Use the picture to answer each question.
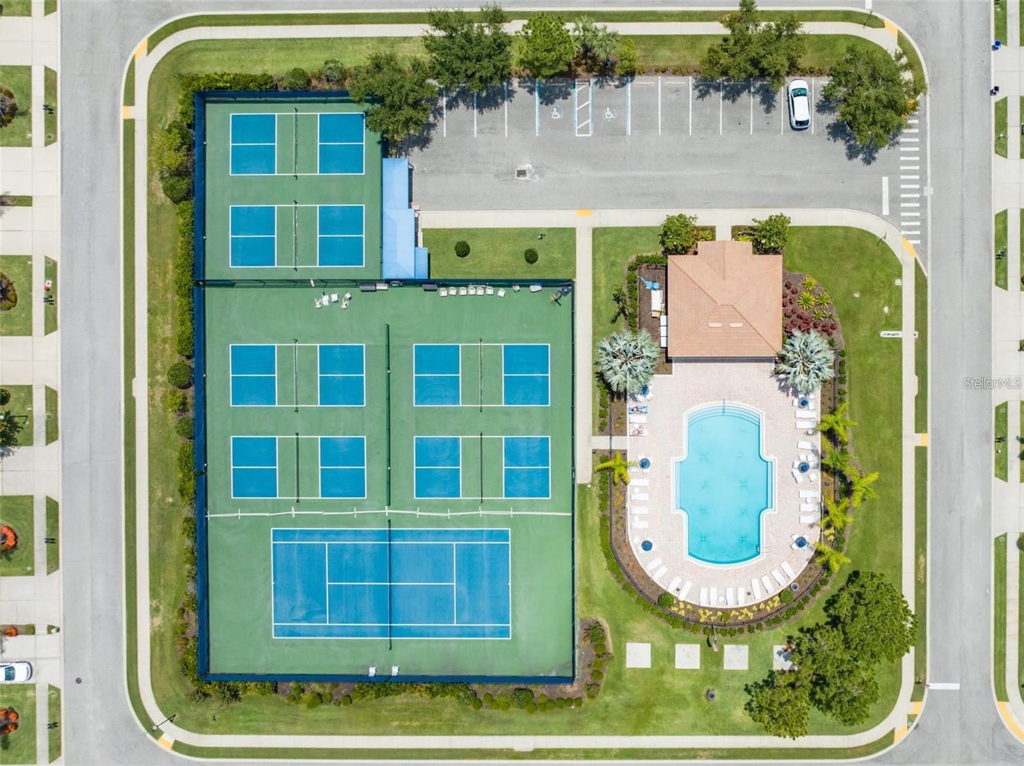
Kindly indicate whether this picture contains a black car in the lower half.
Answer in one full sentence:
No, there is no black car in the lower half.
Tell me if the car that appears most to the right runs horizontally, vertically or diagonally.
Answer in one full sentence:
What the image shows is the car that appears most to the right lying vertically.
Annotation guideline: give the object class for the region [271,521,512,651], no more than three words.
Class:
tennis court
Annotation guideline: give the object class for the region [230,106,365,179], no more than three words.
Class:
sports court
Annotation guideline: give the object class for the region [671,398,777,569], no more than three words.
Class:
swimming pool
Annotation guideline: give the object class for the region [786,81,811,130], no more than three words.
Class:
car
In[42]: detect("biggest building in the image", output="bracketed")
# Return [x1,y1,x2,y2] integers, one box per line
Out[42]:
[667,239,783,359]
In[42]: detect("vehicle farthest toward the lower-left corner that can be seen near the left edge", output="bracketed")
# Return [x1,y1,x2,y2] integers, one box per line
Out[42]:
[0,660,32,684]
